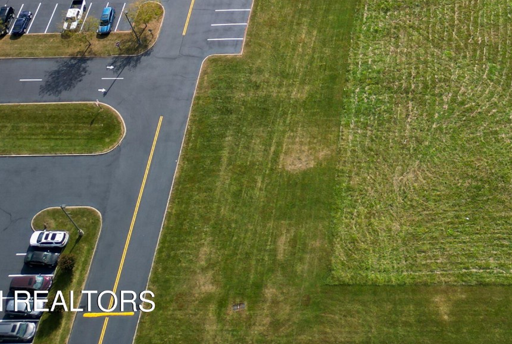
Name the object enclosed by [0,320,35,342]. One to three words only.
car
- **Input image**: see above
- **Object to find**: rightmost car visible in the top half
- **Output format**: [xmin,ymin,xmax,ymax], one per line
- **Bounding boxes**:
[95,7,114,33]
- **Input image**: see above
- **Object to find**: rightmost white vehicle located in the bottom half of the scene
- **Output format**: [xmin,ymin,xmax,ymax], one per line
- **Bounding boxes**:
[30,230,69,249]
